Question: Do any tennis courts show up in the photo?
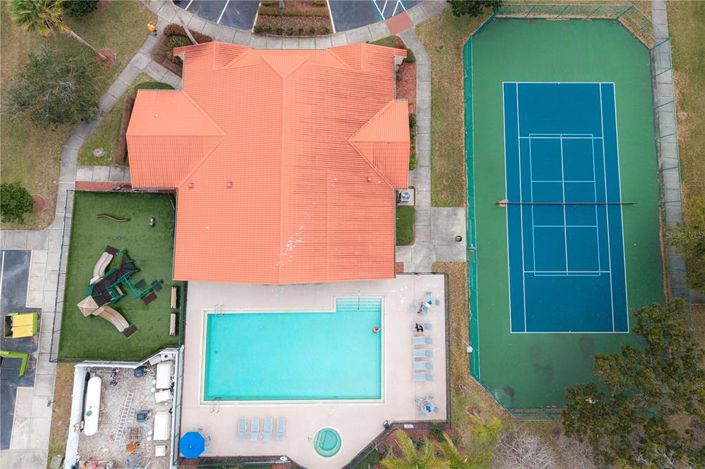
Yes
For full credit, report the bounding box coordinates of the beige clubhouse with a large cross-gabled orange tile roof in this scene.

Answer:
[127,42,410,283]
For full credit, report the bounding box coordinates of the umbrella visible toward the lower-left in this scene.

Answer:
[178,432,204,458]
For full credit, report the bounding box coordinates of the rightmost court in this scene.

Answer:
[467,18,669,408]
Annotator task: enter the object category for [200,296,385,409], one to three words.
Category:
swimming pool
